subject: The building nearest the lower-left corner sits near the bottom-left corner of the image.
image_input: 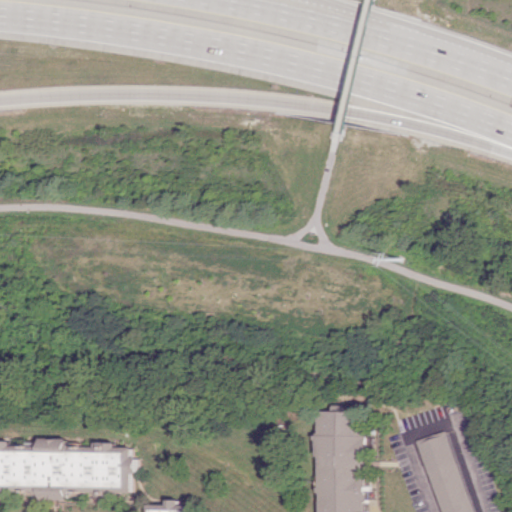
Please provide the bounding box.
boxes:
[0,438,147,500]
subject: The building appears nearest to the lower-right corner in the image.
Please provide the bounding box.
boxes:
[416,432,477,512]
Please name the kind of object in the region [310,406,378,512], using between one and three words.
building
